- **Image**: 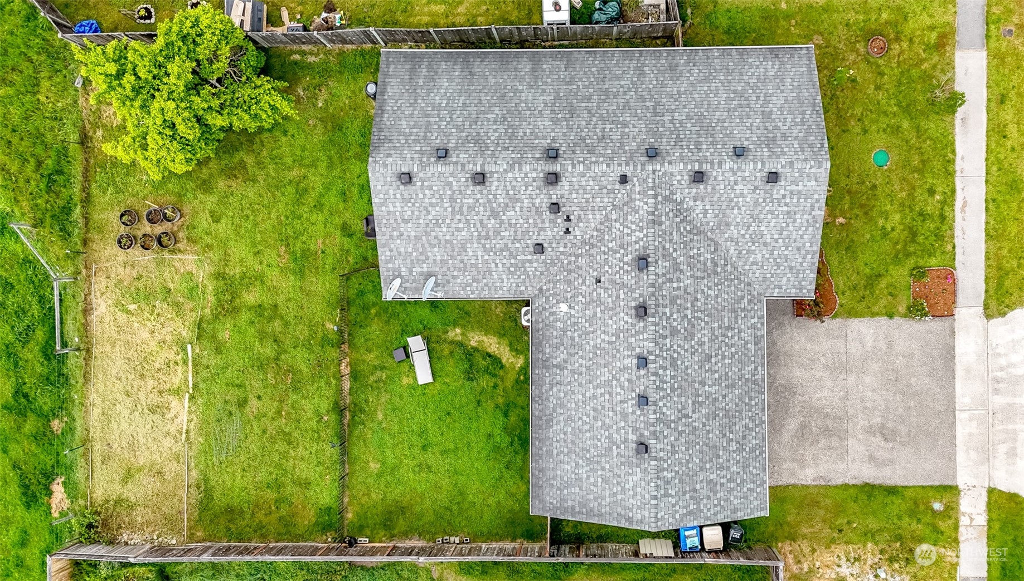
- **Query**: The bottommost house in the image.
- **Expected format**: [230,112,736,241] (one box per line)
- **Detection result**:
[367,46,829,529]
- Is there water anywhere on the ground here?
No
